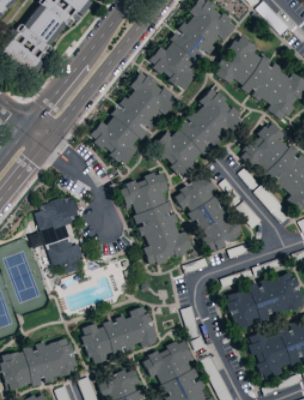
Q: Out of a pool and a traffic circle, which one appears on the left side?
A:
pool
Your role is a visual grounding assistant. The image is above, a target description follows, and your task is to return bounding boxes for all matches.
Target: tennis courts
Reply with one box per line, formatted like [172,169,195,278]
[0,273,20,340]
[0,240,48,314]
